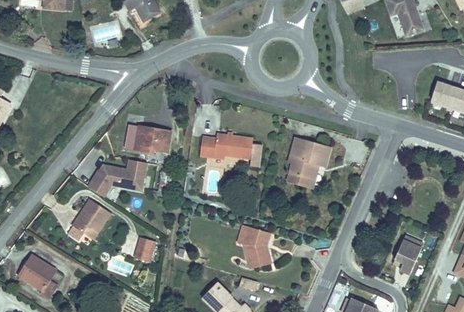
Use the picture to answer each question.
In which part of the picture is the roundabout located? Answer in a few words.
top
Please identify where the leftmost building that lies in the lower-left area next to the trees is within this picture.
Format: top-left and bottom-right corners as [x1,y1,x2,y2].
[18,252,59,298]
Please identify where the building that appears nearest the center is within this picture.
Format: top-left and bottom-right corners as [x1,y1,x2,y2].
[201,131,264,168]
